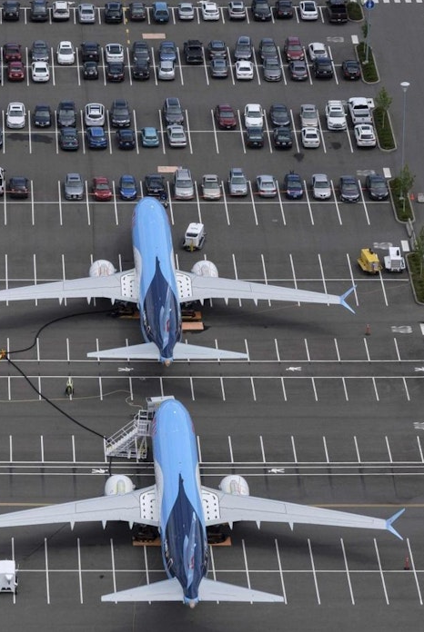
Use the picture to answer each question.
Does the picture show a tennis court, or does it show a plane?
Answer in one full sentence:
The one in the frame is a plane.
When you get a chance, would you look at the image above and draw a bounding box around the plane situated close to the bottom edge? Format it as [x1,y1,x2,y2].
[0,399,406,613]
